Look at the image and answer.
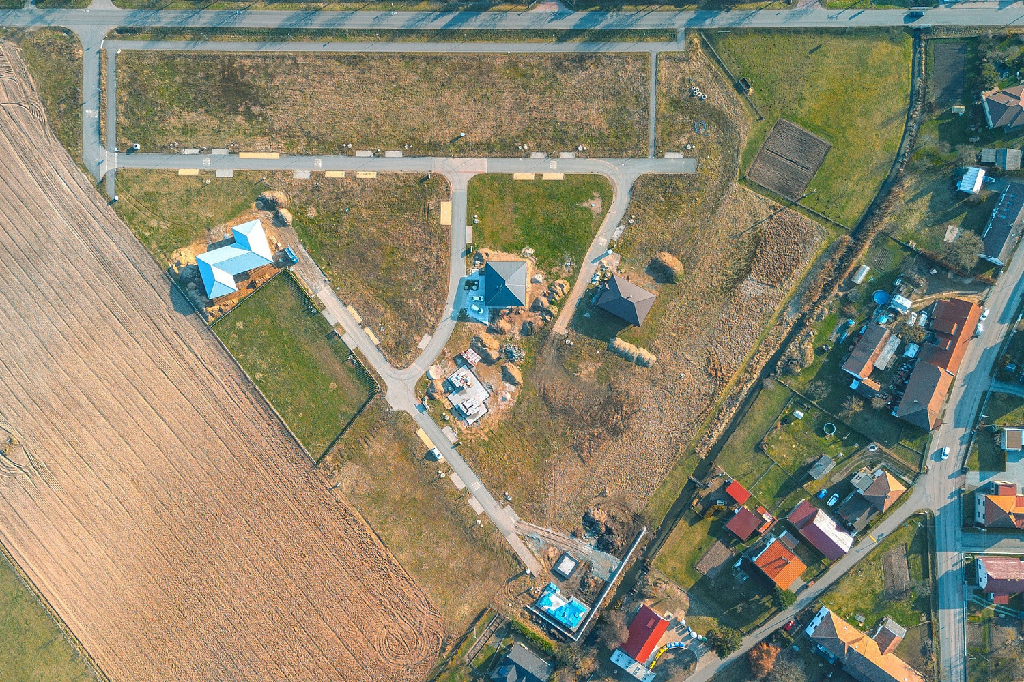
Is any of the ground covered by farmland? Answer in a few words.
Yes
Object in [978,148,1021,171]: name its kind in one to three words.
shed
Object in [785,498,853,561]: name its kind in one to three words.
house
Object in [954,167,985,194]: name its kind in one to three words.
shed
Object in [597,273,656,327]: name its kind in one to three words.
house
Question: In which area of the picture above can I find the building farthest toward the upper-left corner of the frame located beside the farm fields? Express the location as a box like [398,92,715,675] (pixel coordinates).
[196,219,275,299]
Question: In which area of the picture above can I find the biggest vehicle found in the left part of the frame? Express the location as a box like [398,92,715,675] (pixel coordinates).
[282,245,298,264]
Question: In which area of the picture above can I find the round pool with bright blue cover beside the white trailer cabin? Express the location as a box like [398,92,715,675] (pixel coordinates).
[873,289,891,305]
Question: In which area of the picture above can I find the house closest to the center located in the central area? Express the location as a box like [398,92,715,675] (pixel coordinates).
[486,261,526,306]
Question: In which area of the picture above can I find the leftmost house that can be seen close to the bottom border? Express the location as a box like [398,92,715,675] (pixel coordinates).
[492,641,550,682]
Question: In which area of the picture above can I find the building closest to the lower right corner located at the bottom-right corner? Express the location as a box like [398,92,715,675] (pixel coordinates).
[976,556,1024,605]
